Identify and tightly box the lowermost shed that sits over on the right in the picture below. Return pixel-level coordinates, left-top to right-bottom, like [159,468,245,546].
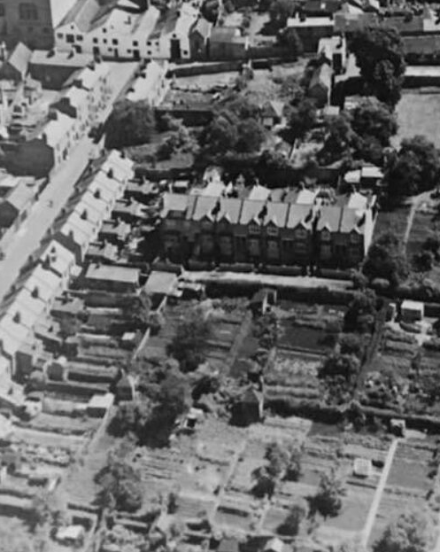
[260,525,290,552]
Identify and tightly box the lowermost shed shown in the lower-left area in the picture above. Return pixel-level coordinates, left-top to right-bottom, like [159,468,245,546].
[54,509,90,547]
